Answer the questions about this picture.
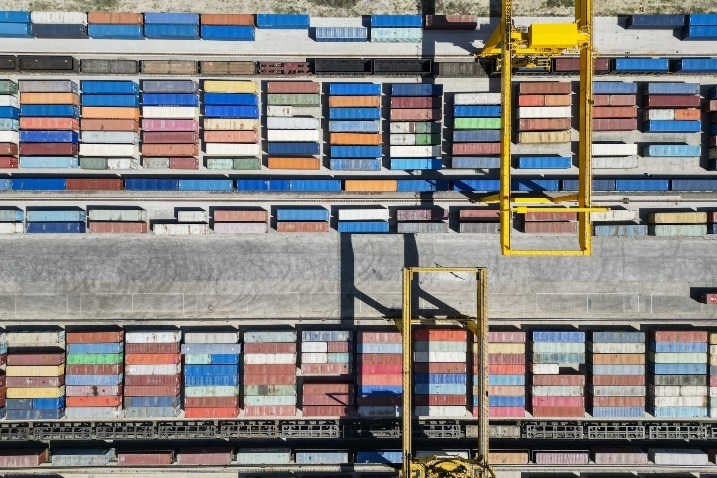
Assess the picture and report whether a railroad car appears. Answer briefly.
Yes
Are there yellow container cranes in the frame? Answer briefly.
Yes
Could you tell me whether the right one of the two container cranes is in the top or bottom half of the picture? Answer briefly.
top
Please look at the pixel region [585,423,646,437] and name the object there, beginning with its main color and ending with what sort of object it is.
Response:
gray rail car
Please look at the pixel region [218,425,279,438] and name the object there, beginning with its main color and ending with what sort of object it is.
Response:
gray rail car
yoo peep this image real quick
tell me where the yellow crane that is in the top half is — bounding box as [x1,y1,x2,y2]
[469,0,611,255]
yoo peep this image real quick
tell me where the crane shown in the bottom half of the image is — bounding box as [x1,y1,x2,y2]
[383,267,492,478]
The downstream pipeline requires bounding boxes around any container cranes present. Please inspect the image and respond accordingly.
[383,267,492,478]
[469,0,611,255]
